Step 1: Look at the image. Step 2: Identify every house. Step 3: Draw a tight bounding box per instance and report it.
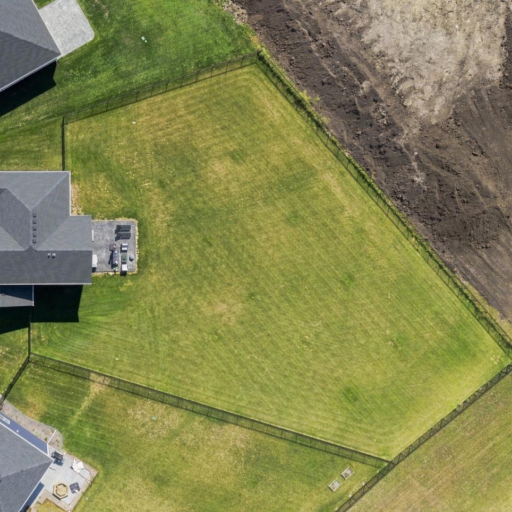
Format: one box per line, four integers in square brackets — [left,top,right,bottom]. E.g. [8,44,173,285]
[0,170,98,307]
[0,0,63,92]
[0,413,56,512]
